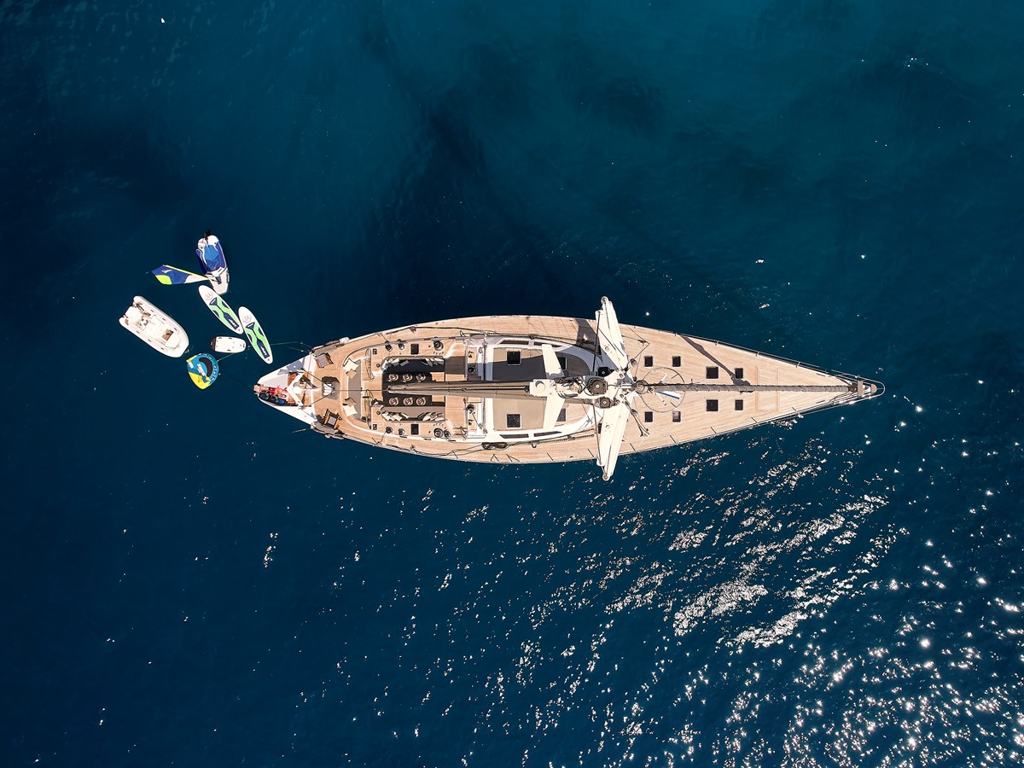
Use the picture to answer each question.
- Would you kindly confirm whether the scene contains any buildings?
No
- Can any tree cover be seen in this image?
No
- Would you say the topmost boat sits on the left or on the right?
left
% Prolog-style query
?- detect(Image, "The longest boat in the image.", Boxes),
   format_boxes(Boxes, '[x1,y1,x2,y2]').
[253,297,885,481]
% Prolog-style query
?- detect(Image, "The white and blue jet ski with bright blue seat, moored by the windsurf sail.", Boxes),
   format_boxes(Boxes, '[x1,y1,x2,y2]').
[194,230,230,295]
